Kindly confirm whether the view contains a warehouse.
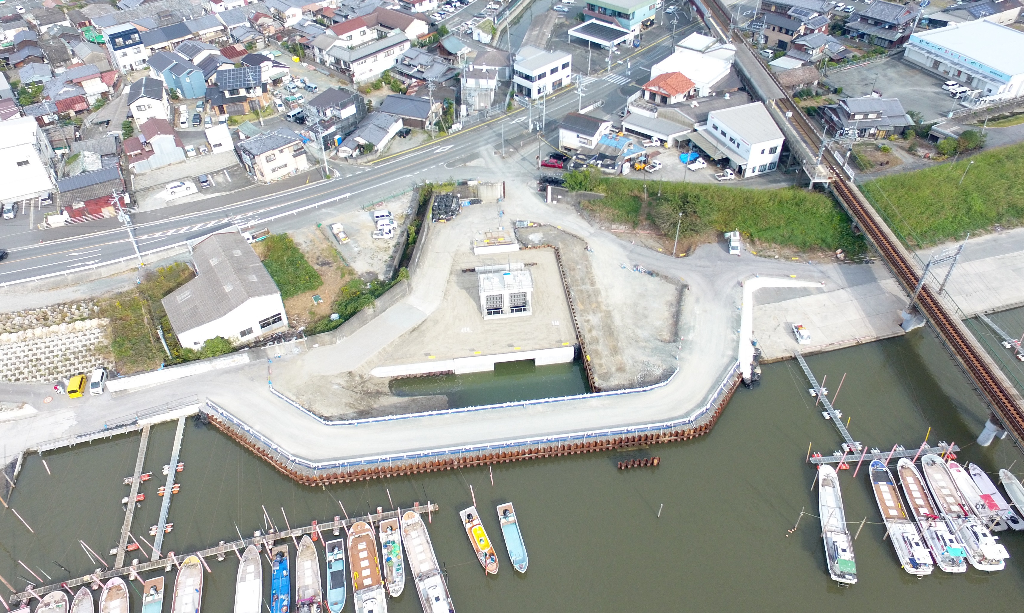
Yes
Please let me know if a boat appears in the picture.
Yes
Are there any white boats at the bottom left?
Yes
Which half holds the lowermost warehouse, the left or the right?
left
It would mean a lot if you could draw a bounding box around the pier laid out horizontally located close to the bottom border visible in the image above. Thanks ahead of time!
[8,501,439,607]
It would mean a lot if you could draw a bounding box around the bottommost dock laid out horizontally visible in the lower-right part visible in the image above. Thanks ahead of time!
[808,440,964,467]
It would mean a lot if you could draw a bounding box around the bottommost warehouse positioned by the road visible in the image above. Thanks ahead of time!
[161,232,289,349]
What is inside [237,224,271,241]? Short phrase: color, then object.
white vehicle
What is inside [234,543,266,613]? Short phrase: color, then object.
white boat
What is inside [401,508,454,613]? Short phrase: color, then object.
white boat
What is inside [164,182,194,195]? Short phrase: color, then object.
white vehicle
